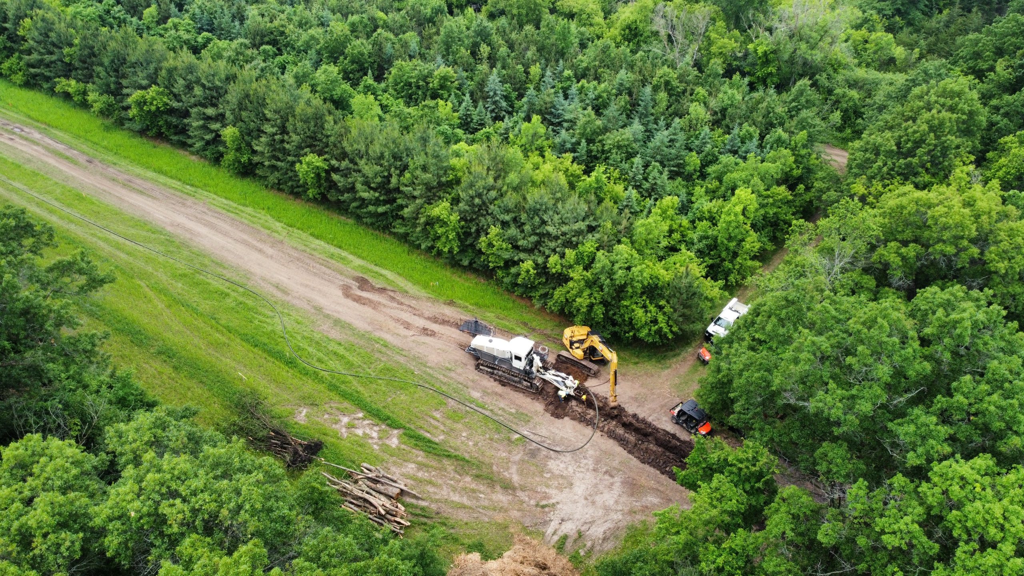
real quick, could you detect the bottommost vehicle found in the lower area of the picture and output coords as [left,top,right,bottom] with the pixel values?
[667,399,717,439]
